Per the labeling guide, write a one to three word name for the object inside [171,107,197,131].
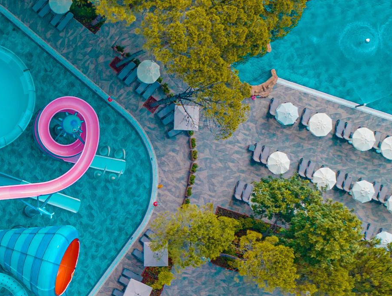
umbrella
